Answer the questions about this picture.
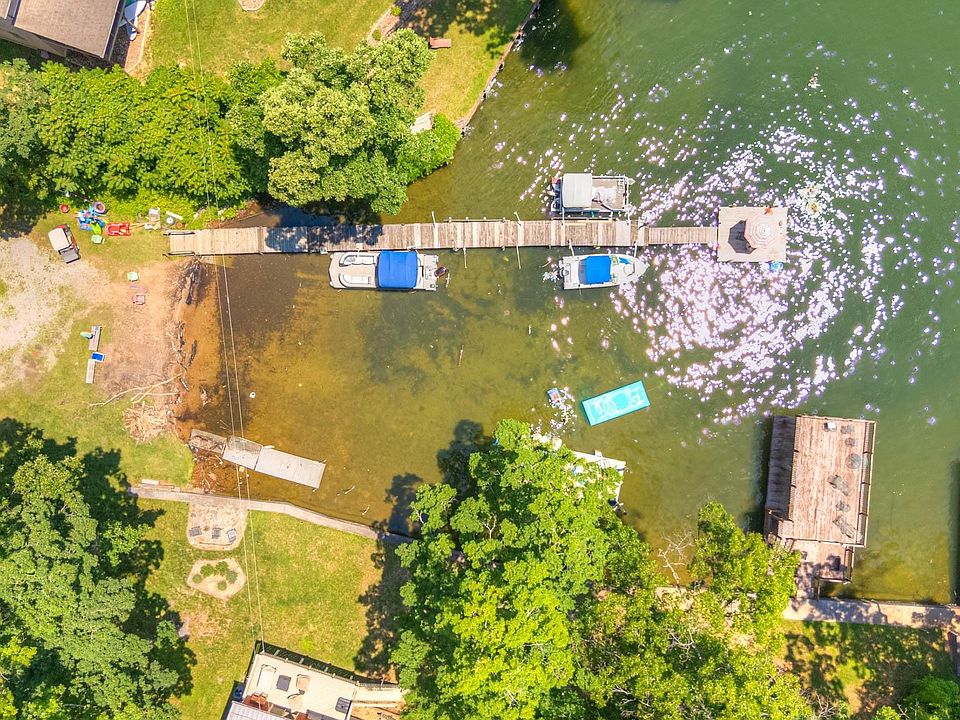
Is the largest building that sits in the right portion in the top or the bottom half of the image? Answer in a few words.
bottom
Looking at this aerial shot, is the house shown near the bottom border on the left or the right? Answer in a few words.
left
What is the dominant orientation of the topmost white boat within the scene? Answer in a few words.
from left to right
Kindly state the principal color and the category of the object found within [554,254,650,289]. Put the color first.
white boat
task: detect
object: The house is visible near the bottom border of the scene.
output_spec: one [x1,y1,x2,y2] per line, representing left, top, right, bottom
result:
[225,646,411,720]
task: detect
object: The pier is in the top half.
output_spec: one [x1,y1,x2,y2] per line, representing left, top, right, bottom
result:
[161,205,787,266]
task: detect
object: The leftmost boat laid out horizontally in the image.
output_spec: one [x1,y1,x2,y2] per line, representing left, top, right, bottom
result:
[329,249,448,292]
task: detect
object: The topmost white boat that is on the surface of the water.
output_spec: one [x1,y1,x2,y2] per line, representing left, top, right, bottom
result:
[546,173,640,217]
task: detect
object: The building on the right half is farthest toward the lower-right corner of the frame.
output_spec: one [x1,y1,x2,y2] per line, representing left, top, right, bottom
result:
[751,412,878,566]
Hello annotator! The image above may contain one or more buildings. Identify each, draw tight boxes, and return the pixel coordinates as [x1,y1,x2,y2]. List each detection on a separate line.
[225,646,411,720]
[751,412,878,566]
[0,0,123,86]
